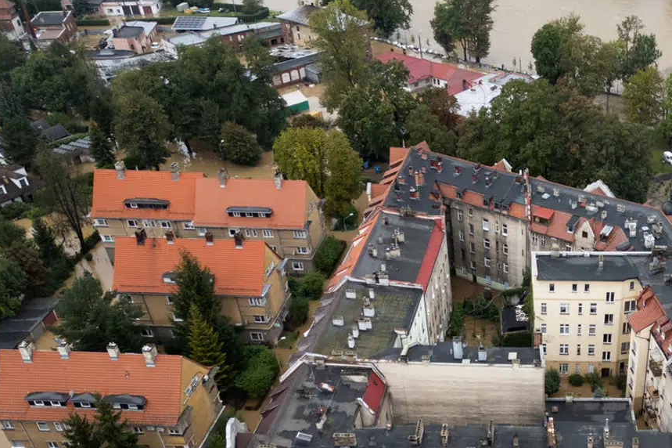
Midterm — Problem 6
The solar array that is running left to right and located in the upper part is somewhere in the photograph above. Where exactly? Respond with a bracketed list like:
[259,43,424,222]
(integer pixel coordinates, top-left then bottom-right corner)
[174,18,207,30]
